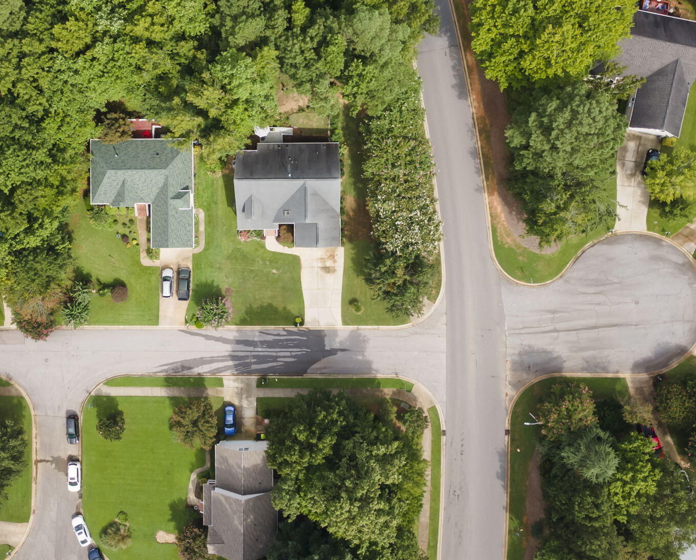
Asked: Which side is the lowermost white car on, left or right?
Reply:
left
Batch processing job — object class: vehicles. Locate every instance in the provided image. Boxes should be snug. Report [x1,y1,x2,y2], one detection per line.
[222,404,236,435]
[639,149,656,182]
[72,514,92,548]
[64,414,80,445]
[66,461,82,492]
[176,266,191,300]
[87,547,103,560]
[160,267,174,299]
